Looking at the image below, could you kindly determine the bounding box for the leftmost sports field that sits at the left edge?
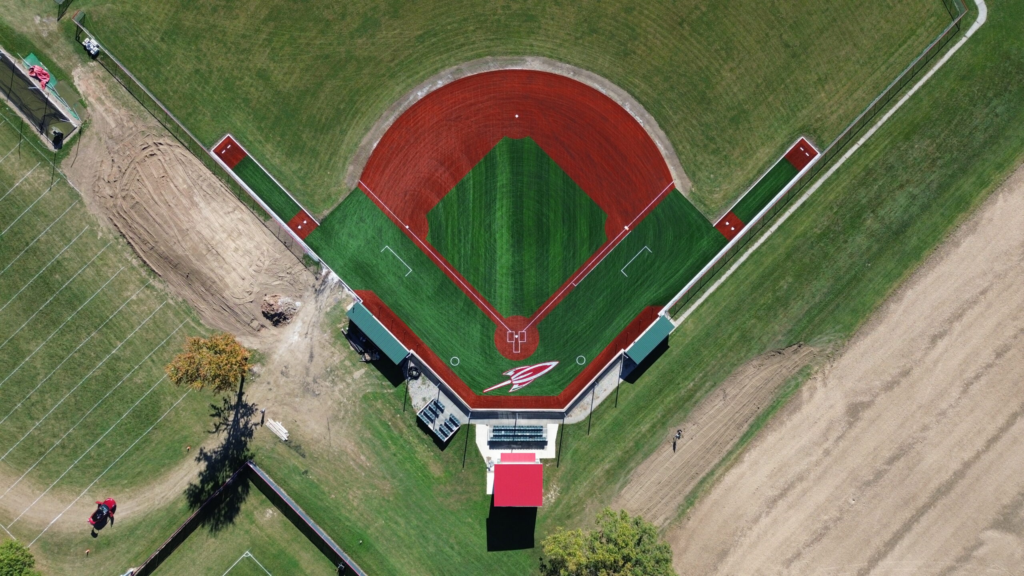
[0,112,231,549]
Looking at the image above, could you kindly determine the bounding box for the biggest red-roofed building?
[494,450,543,507]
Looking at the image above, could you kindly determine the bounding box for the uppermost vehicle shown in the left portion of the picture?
[89,498,115,525]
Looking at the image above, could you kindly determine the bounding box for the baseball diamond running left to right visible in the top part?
[78,0,962,409]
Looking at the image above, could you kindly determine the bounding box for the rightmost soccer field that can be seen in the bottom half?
[135,465,358,576]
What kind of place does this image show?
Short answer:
sports ground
